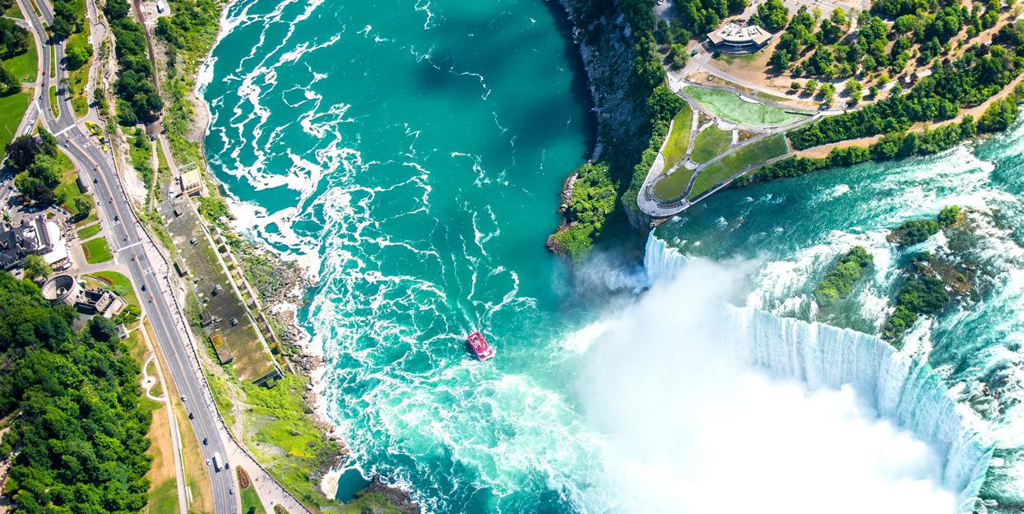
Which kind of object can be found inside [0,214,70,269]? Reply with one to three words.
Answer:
building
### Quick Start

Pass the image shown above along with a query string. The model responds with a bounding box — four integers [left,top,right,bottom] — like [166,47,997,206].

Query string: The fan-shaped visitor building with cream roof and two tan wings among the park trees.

[702,19,772,55]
